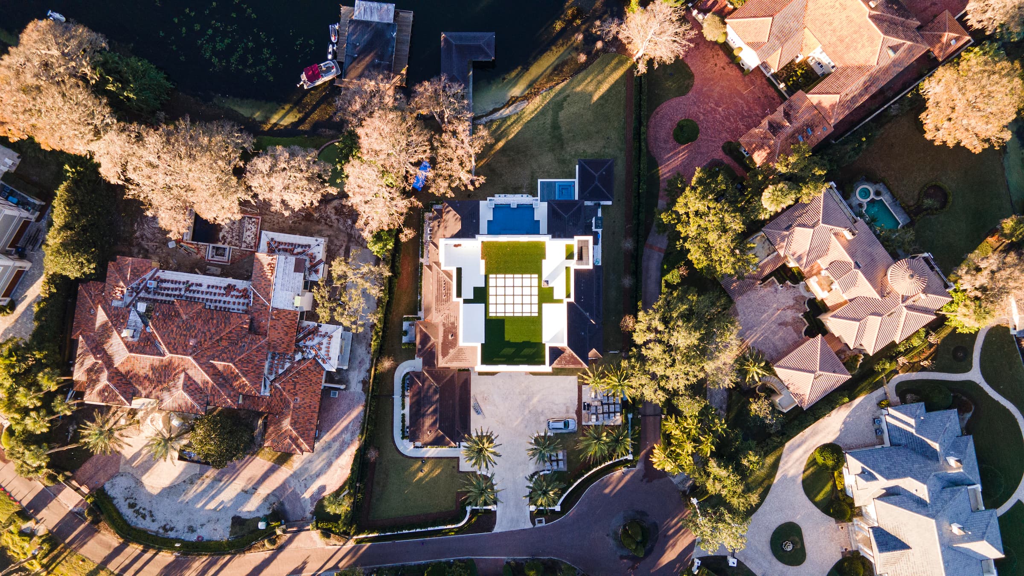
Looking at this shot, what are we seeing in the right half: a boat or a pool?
pool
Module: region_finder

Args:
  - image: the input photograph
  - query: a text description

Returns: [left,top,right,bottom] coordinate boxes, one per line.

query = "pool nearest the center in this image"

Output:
[487,204,540,235]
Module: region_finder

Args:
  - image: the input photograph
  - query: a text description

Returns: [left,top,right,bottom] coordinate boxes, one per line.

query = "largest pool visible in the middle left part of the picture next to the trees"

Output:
[185,211,263,267]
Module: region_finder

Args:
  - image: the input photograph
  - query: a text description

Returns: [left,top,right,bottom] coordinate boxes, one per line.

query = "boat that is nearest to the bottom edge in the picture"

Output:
[298,62,339,87]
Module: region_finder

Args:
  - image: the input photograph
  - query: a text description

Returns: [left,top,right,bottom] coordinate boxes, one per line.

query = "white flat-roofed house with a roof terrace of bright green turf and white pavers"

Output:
[416,197,603,376]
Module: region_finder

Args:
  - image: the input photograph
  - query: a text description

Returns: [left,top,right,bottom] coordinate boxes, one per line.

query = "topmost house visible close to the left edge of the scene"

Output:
[0,182,53,305]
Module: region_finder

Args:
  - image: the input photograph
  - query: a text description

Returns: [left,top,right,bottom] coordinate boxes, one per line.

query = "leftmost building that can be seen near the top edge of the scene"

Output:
[335,0,414,88]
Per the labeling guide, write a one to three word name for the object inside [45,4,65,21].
boat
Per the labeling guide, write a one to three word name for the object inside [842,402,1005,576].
house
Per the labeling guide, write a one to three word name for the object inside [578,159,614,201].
building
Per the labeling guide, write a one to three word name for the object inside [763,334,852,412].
building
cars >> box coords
[547,418,577,432]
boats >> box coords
[298,62,339,87]
[327,41,335,61]
[45,4,65,21]
[330,23,338,43]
